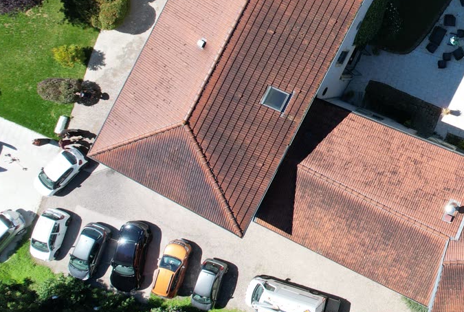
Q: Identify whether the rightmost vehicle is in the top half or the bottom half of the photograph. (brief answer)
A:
bottom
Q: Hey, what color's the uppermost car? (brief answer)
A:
white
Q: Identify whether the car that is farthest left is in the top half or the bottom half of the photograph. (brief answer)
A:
bottom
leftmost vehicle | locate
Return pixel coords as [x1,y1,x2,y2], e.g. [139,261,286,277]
[0,204,34,263]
